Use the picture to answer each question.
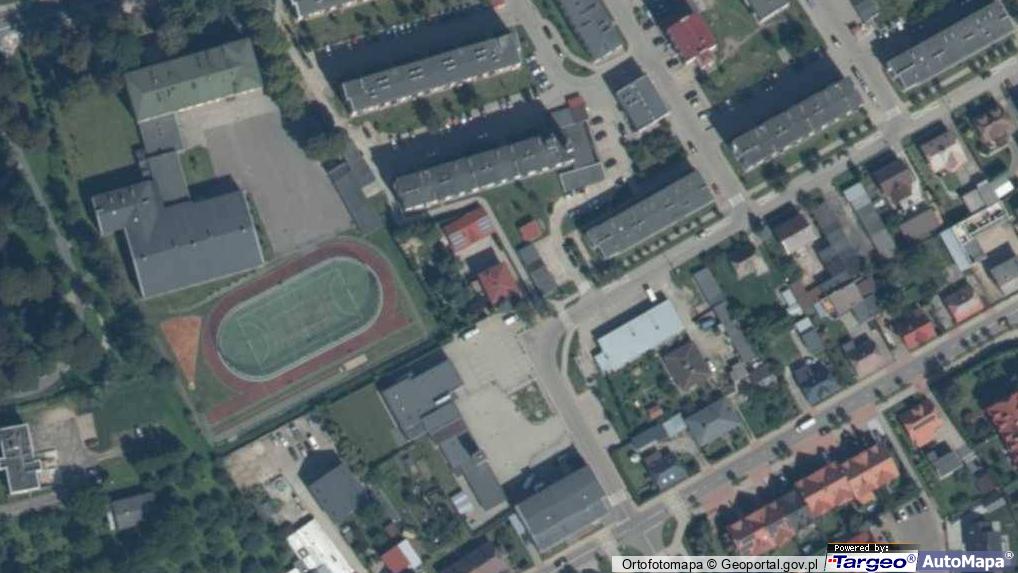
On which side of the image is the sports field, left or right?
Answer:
left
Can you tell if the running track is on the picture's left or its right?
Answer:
left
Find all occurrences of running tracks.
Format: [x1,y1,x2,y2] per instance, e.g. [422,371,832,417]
[200,240,424,424]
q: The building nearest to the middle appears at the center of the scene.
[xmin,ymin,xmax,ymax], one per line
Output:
[478,262,522,304]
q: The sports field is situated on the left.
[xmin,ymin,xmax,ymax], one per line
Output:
[218,258,382,378]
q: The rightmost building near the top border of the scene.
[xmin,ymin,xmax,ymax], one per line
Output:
[885,0,1016,92]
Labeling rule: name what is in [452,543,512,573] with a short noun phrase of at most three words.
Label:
house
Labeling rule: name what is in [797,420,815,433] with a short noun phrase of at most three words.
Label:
vehicle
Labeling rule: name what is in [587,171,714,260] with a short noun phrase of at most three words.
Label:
building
